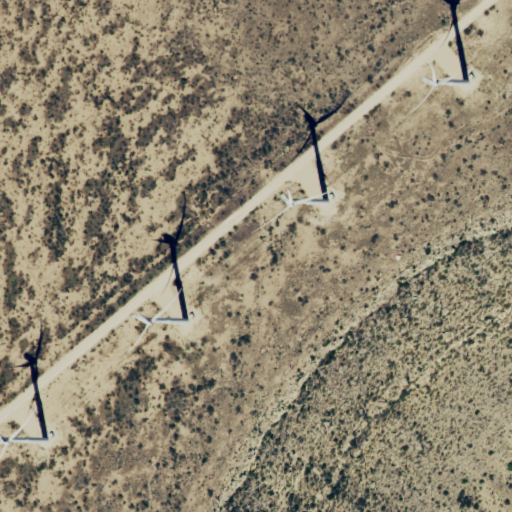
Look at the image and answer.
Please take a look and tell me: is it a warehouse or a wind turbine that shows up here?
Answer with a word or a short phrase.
wind turbine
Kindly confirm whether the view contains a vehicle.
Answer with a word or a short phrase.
No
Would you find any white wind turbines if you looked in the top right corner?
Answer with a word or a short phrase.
Yes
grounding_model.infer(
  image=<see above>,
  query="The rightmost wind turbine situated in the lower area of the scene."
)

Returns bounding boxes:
[131,294,192,355]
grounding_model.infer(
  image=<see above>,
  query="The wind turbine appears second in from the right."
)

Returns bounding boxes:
[256,188,332,230]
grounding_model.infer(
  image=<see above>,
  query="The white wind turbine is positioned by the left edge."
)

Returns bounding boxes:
[0,415,51,465]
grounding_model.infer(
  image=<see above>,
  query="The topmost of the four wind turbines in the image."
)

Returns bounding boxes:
[408,54,471,122]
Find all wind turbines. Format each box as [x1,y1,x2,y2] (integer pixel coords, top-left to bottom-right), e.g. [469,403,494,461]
[0,415,51,465]
[256,188,332,230]
[131,294,192,355]
[408,54,471,122]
